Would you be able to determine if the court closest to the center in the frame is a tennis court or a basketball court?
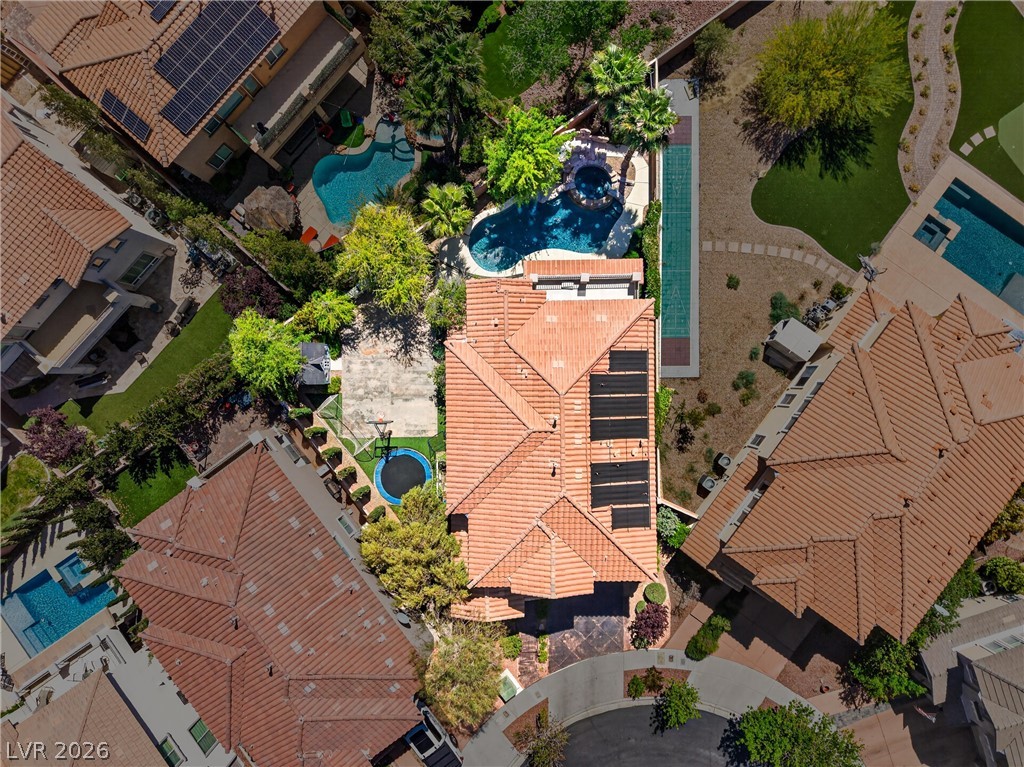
basketball court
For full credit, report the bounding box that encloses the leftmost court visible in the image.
[342,348,438,438]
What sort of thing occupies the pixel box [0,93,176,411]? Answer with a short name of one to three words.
house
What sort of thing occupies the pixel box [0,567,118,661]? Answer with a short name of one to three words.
swimming pool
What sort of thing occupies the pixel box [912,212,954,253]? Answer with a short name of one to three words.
swimming pool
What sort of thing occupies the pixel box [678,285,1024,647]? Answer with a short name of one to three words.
house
